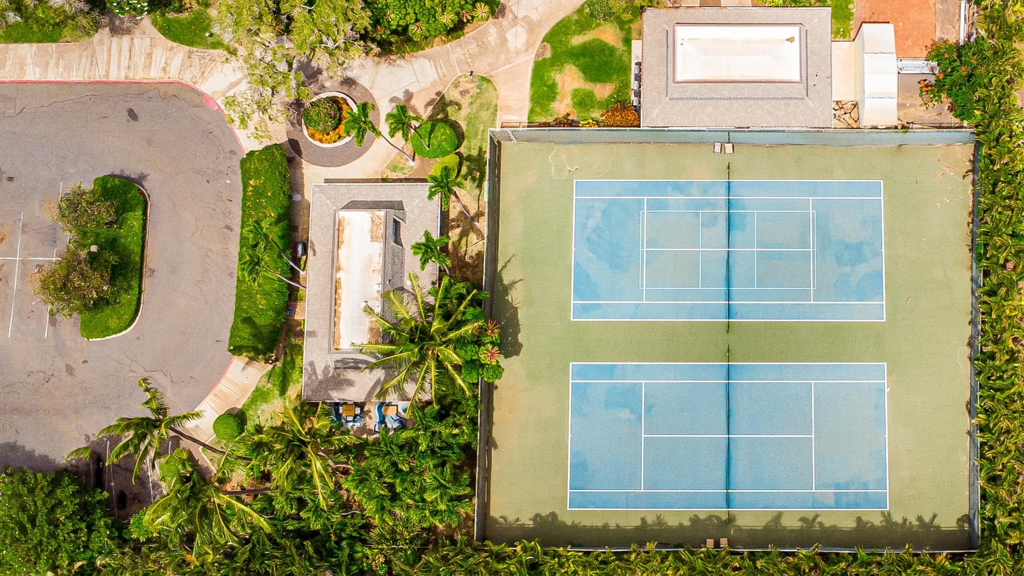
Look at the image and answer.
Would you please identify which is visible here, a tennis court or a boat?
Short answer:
tennis court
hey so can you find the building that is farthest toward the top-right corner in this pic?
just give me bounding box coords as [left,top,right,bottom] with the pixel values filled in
[851,23,897,132]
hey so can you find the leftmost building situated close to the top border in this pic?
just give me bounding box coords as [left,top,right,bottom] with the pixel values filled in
[640,6,834,129]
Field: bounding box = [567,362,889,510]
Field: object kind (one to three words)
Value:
tennis court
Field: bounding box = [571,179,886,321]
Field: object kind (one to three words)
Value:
tennis court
